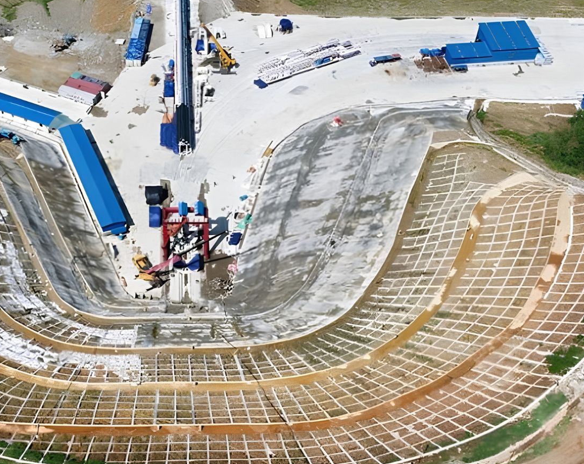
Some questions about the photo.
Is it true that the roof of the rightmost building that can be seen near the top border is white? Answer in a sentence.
No, from above the roof of the rightmost building that can be seen near the top border looks blue.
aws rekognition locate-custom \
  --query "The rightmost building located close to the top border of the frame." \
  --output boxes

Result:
[443,17,542,66]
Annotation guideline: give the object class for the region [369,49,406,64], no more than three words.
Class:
vehicle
